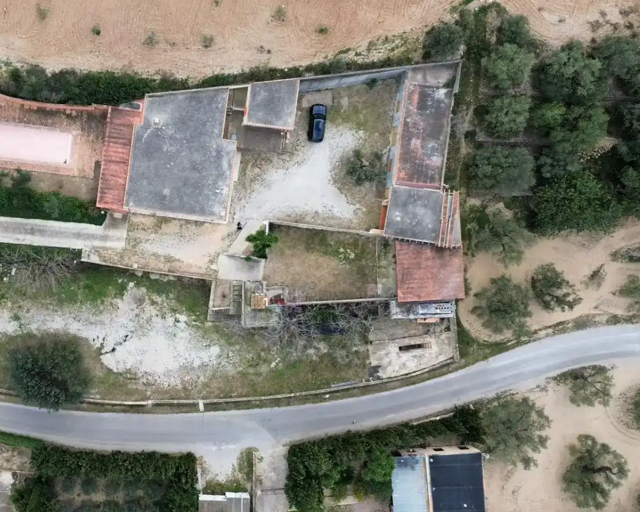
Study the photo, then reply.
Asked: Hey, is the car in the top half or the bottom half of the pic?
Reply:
top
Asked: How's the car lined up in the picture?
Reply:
vertically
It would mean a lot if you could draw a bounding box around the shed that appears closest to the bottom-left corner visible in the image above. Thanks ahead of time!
[200,492,228,512]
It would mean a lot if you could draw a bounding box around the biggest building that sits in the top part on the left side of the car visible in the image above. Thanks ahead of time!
[124,88,240,225]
